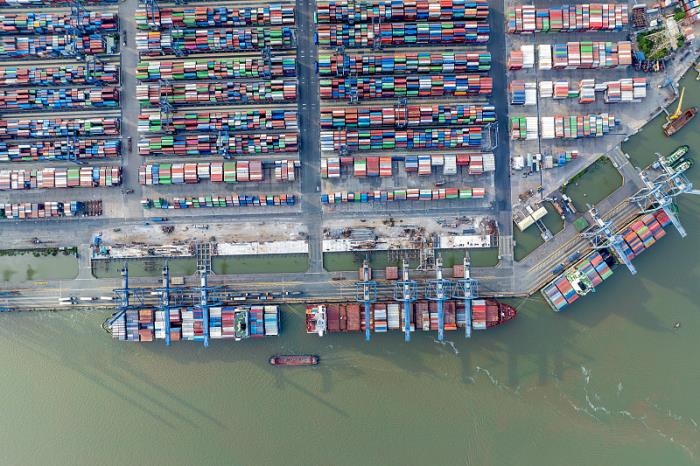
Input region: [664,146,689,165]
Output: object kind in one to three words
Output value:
boat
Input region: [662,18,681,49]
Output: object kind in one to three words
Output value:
building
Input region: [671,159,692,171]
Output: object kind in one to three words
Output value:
boat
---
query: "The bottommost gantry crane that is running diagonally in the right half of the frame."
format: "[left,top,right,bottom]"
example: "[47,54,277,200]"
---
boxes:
[577,203,638,275]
